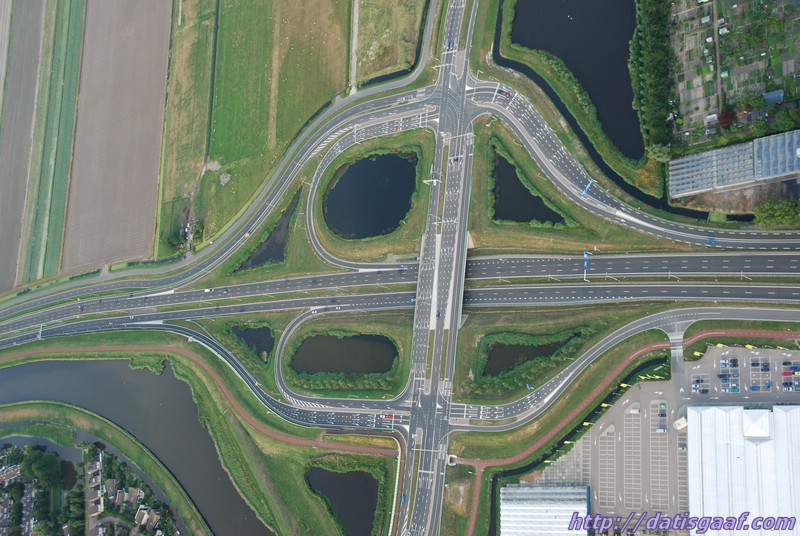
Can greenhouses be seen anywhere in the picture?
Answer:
Yes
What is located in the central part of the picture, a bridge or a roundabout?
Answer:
bridge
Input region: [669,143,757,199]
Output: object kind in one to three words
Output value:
greenhouse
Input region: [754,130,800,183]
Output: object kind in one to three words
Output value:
greenhouse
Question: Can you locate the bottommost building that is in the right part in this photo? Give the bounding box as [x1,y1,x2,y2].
[500,488,595,536]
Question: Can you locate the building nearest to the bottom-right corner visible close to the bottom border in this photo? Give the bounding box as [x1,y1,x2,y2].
[688,405,800,536]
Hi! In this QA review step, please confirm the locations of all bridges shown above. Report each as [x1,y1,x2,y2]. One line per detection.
[412,230,474,334]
